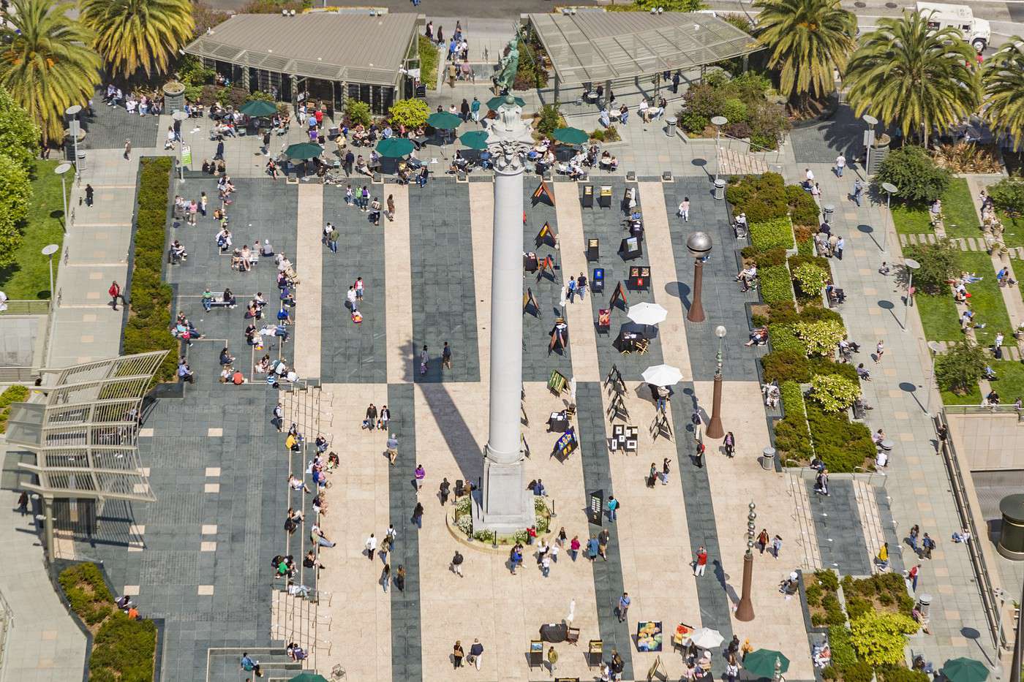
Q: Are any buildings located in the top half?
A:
Yes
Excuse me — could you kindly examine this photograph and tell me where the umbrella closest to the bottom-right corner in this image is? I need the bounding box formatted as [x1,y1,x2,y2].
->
[936,655,994,682]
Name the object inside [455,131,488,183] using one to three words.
umbrella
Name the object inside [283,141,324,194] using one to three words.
umbrella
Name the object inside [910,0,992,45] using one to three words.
truck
